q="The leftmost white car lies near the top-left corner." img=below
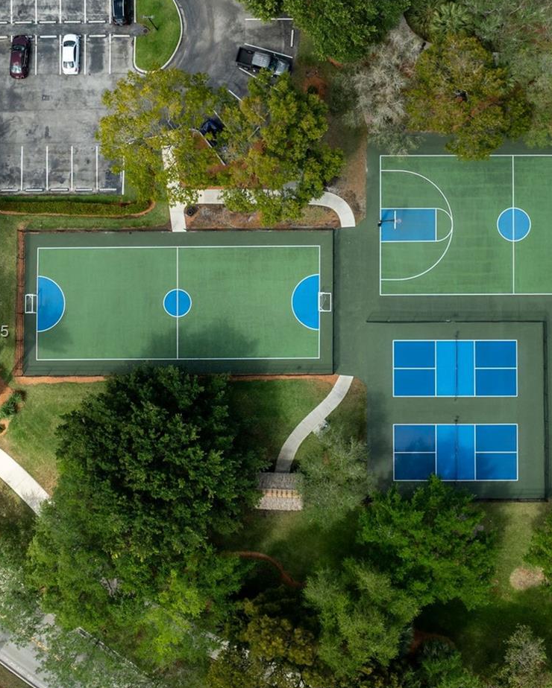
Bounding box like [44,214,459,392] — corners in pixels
[59,34,82,76]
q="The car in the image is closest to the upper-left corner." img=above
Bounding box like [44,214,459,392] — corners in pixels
[9,36,31,79]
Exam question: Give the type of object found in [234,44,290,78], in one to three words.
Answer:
truck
